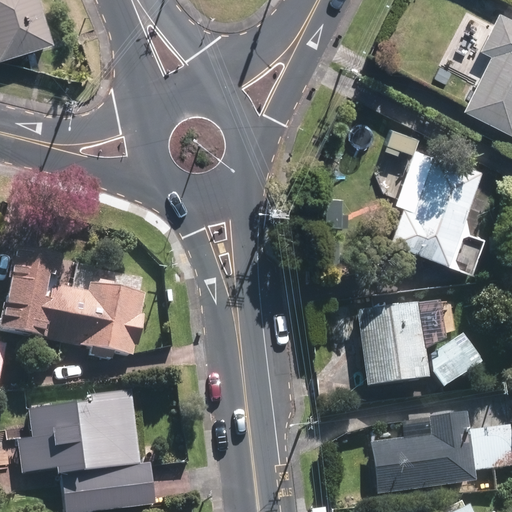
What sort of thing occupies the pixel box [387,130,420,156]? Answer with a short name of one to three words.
shed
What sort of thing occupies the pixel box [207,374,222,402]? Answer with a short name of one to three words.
car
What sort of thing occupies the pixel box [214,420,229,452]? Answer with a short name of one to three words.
car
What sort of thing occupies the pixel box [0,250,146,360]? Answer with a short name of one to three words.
house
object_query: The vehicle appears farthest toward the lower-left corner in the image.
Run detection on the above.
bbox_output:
[54,365,82,380]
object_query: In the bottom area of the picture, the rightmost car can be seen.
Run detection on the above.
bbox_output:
[274,315,290,345]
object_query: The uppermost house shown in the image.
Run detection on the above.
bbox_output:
[0,0,54,63]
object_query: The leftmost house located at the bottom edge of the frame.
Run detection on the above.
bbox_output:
[17,390,156,512]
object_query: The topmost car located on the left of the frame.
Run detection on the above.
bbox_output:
[168,191,188,218]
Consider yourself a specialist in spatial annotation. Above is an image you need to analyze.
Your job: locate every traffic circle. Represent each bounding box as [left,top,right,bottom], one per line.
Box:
[168,116,225,174]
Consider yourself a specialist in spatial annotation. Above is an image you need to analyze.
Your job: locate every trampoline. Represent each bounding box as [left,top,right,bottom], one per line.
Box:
[349,126,375,154]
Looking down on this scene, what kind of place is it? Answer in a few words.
residential area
